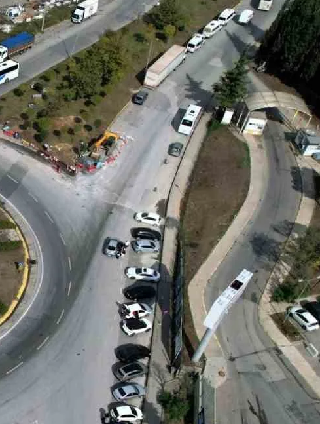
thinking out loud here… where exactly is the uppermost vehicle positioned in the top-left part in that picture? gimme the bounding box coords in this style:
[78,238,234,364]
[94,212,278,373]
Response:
[73,0,100,24]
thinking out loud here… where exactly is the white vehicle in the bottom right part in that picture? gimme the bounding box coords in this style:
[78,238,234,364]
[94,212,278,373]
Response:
[288,308,320,332]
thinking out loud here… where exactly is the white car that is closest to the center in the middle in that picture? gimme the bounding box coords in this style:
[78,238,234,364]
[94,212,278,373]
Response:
[135,212,163,227]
